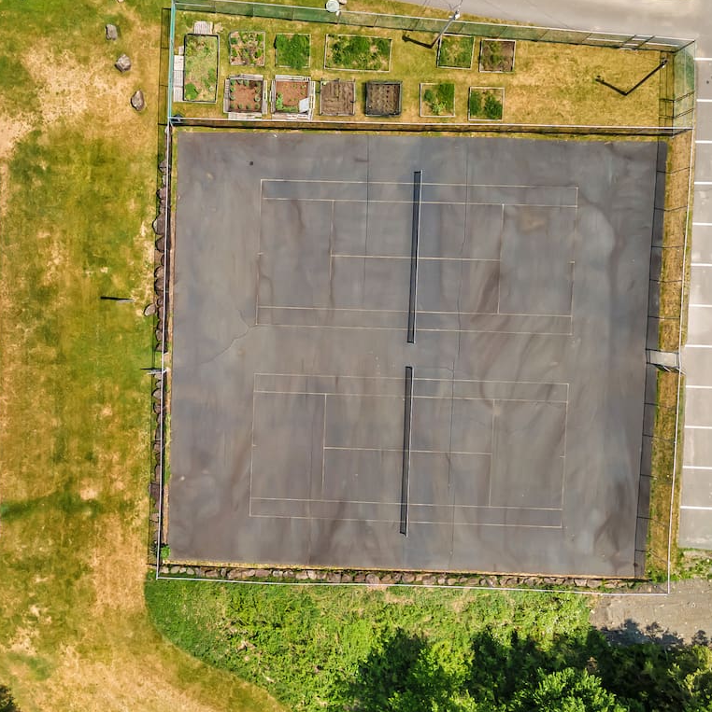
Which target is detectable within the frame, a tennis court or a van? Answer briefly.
tennis court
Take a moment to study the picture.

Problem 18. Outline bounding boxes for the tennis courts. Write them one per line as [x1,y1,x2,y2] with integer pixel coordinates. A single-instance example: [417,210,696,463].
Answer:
[172,132,666,369]
[167,354,656,578]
